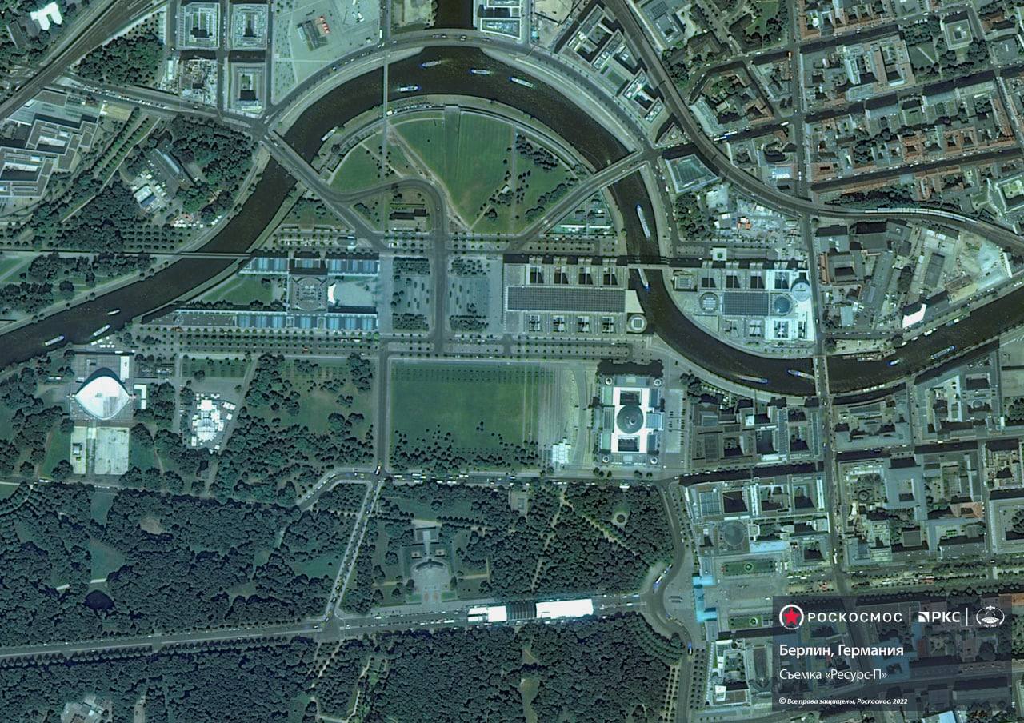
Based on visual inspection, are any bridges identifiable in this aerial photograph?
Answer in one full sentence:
Yes, a bridge can be made out from above.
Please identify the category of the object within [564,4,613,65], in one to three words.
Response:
building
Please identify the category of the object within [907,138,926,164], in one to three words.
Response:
house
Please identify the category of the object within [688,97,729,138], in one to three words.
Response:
building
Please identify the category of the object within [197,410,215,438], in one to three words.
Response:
tent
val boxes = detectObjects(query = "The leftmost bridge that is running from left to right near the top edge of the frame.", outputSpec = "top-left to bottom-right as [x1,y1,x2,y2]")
[422,27,482,48]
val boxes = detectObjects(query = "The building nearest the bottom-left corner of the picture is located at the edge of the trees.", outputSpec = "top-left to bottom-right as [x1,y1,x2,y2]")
[64,694,106,723]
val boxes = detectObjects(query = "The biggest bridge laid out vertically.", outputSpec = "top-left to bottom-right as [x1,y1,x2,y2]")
[813,350,828,404]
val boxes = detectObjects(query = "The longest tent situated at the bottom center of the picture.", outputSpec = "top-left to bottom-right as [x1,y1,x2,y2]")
[535,599,593,619]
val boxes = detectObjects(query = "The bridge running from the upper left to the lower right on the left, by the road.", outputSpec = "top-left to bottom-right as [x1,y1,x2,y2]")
[260,128,317,185]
